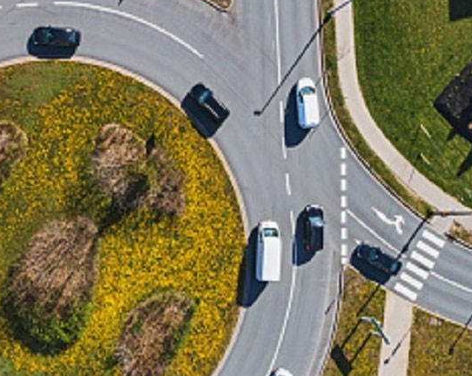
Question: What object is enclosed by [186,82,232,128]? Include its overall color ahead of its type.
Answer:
black truck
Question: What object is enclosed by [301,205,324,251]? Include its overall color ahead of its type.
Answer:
black car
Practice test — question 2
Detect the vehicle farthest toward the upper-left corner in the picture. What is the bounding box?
[29,25,80,49]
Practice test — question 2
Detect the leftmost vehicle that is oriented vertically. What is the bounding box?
[254,223,280,279]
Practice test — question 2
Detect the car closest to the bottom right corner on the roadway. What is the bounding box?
[351,246,399,278]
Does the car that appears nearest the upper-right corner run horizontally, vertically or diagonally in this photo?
vertically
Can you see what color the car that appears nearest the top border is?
black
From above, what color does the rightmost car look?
black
